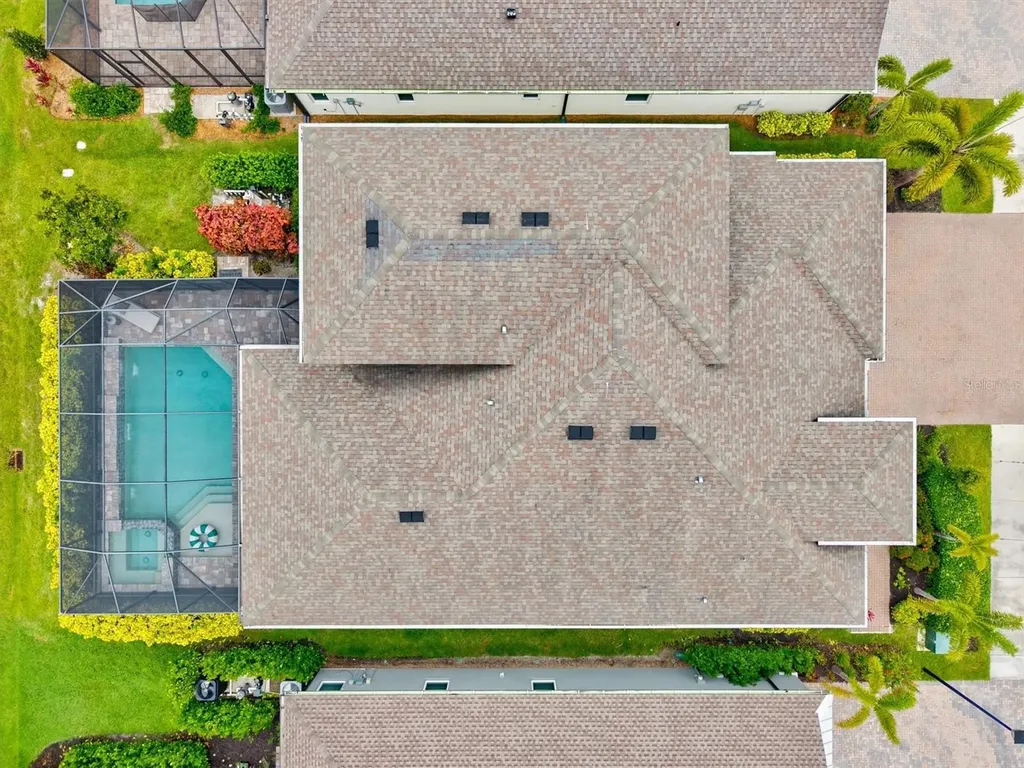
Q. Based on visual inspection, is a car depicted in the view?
No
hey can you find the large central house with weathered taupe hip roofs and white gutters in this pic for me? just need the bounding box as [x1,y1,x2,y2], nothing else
[238,123,917,629]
